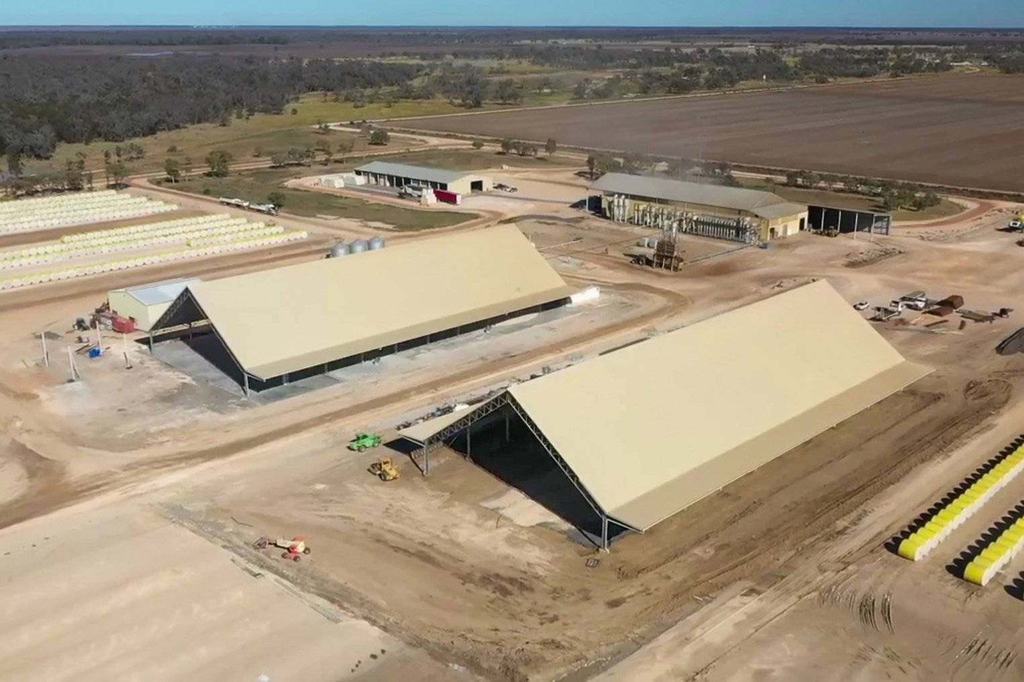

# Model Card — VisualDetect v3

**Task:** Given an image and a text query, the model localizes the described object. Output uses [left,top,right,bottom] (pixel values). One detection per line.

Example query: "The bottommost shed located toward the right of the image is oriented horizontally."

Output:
[395,280,940,555]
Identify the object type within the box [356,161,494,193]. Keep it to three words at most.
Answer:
shed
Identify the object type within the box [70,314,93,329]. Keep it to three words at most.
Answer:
work vehicle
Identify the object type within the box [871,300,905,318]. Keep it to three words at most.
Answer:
vehicle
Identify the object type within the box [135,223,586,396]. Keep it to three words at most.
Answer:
shed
